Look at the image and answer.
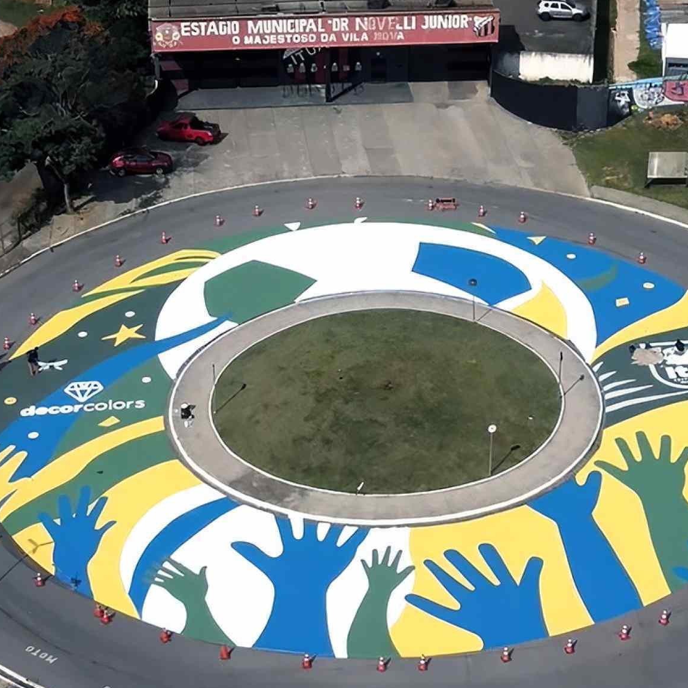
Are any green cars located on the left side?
No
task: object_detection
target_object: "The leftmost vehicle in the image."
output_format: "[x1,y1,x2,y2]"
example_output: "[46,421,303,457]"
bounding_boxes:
[110,144,172,176]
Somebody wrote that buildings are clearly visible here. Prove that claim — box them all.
[661,0,688,74]
[147,0,502,107]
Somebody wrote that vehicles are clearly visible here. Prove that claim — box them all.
[110,144,172,176]
[157,113,219,142]
[537,0,589,19]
